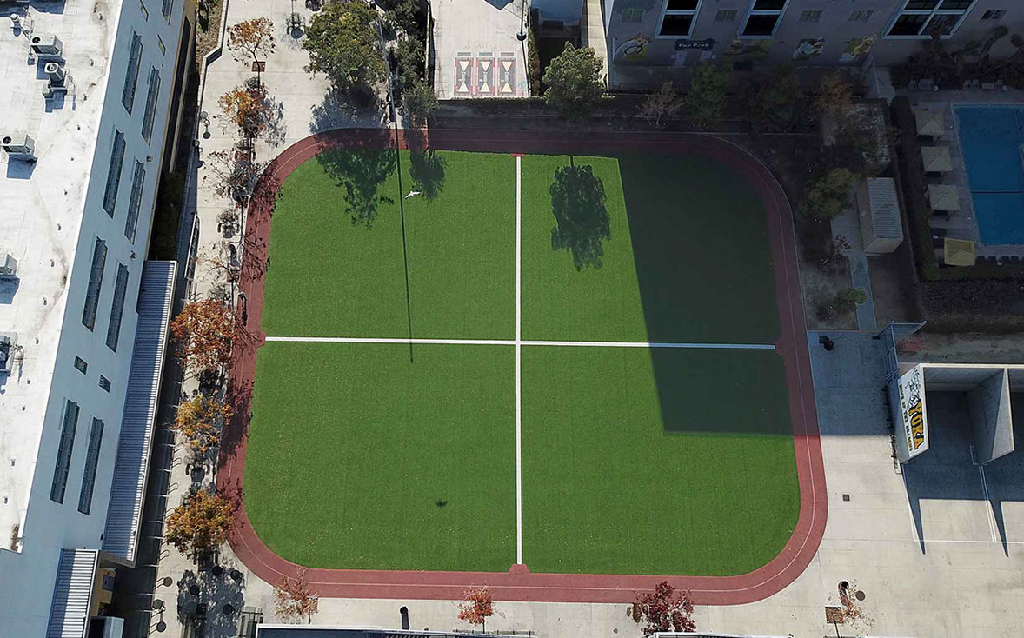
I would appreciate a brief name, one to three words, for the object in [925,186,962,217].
umbrella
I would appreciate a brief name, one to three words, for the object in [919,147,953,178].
umbrella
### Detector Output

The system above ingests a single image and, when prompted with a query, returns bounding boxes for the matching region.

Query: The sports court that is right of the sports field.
[893,364,1024,542]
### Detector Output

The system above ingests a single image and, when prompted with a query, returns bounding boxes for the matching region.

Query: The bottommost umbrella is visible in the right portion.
[940,238,977,270]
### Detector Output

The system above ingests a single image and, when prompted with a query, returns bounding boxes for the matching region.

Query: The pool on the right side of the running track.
[949,103,1024,249]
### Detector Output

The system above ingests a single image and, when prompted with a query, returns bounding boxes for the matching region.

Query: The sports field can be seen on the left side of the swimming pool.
[242,150,799,574]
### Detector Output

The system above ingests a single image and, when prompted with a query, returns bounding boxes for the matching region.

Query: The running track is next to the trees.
[212,127,827,605]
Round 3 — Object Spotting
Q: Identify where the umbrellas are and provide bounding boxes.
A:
[925,186,962,217]
[919,147,953,178]
[912,109,947,138]
[940,238,977,270]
